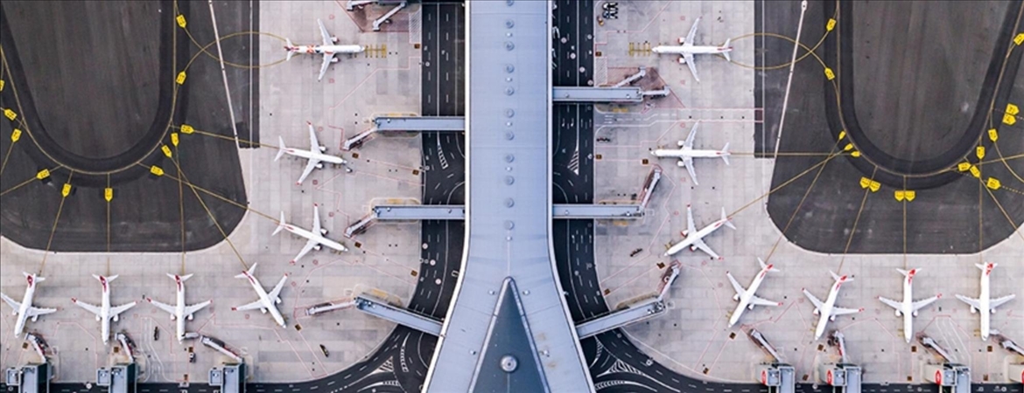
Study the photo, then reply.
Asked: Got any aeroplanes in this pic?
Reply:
Yes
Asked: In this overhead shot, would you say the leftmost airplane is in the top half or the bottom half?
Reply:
bottom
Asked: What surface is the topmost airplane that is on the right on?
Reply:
apron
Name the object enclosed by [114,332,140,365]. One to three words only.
jet bridge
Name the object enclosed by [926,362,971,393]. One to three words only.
building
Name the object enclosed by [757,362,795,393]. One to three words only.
building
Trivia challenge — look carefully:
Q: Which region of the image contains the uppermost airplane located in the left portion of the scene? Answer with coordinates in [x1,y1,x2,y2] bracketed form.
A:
[286,19,365,78]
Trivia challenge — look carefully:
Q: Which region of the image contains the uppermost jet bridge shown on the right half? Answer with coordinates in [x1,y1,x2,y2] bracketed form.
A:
[613,66,645,86]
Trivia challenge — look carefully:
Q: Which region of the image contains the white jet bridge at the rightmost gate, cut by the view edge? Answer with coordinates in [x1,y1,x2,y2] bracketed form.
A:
[998,340,1024,360]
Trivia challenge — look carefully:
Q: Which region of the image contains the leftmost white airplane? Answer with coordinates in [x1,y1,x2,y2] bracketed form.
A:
[0,273,56,337]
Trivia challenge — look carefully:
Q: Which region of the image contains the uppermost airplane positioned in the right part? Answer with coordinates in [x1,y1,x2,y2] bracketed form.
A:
[651,19,731,78]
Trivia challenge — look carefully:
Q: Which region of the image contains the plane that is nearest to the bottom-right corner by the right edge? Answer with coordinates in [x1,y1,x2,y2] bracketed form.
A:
[954,265,1015,341]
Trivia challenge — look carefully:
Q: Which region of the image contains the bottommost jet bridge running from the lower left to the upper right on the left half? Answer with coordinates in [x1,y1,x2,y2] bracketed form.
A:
[344,213,375,238]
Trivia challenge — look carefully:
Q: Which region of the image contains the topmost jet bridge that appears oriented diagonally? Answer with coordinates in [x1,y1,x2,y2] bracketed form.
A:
[374,3,406,31]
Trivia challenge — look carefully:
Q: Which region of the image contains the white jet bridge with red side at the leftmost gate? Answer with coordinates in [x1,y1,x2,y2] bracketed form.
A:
[24,333,55,365]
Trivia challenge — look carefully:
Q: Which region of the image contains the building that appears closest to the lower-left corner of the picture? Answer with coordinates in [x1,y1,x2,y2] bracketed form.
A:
[6,362,56,393]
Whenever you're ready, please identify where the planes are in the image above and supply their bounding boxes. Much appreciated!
[726,259,783,327]
[651,124,731,182]
[231,264,285,327]
[276,121,347,184]
[651,19,731,78]
[665,203,735,259]
[275,203,347,262]
[954,265,1015,341]
[286,19,365,78]
[147,276,211,344]
[72,277,136,344]
[803,273,864,341]
[878,271,943,343]
[0,273,56,337]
